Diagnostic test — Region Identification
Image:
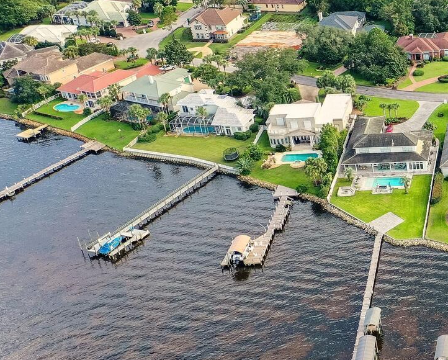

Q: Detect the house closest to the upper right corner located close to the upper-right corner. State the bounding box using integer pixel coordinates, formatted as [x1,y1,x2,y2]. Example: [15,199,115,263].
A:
[396,29,448,62]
